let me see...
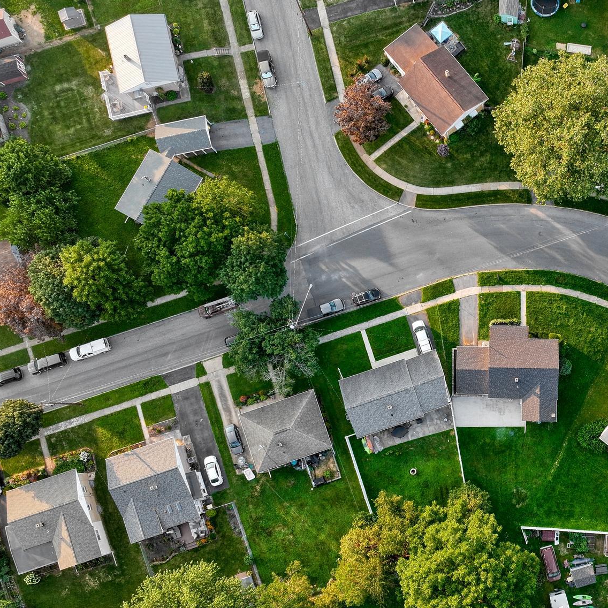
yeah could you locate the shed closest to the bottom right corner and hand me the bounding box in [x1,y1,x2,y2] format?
[571,562,596,588]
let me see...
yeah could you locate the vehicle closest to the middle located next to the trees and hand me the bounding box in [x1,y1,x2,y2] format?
[305,298,345,320]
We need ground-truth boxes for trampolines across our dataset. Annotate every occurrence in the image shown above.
[530,0,560,18]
